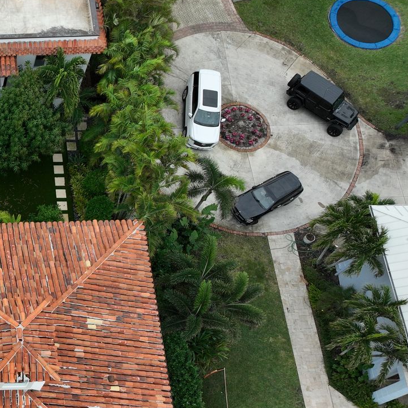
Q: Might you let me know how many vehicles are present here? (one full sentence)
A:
The picture shows 3 vehicles.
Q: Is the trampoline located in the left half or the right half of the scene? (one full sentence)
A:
The trampoline appears in the right half of the scene.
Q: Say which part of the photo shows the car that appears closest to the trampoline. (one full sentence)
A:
The car that appears closest to the trampoline sits in the top right section of the image.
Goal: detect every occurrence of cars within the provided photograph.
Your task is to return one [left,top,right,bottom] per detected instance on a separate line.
[281,70,361,138]
[183,63,228,152]
[228,164,314,231]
